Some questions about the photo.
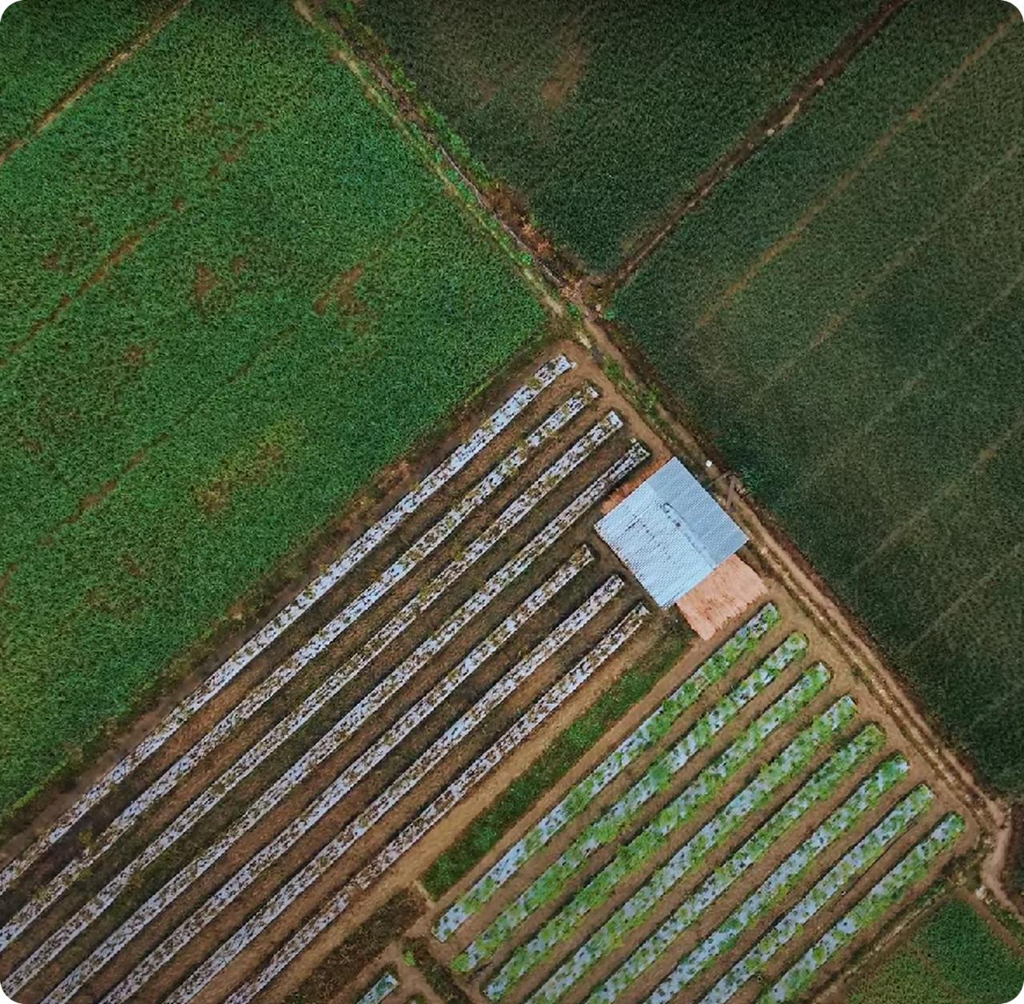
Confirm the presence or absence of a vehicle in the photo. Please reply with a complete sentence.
No, no vehicle is visible in the view.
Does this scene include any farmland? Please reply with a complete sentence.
Yes, there is farmland in the image.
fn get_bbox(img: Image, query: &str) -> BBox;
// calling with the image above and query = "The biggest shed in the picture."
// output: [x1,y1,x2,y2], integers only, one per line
[593,454,771,643]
